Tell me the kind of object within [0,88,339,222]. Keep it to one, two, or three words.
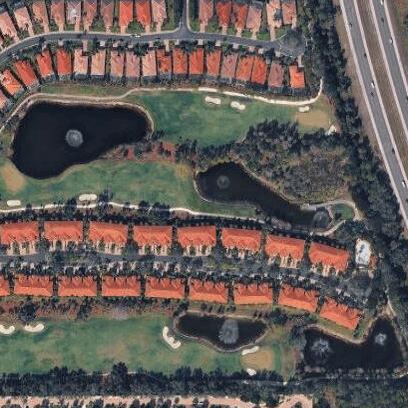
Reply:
golf course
